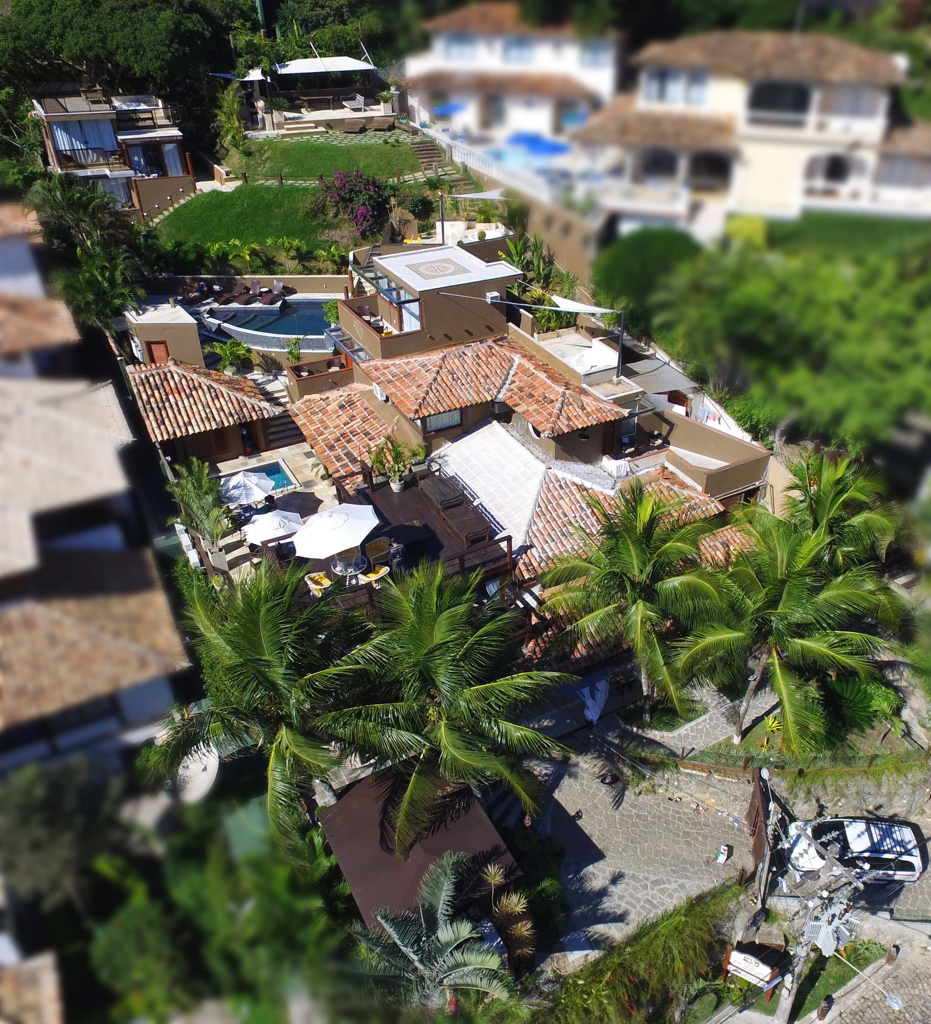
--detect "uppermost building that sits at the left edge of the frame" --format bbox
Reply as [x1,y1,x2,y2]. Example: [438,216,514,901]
[38,82,199,230]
